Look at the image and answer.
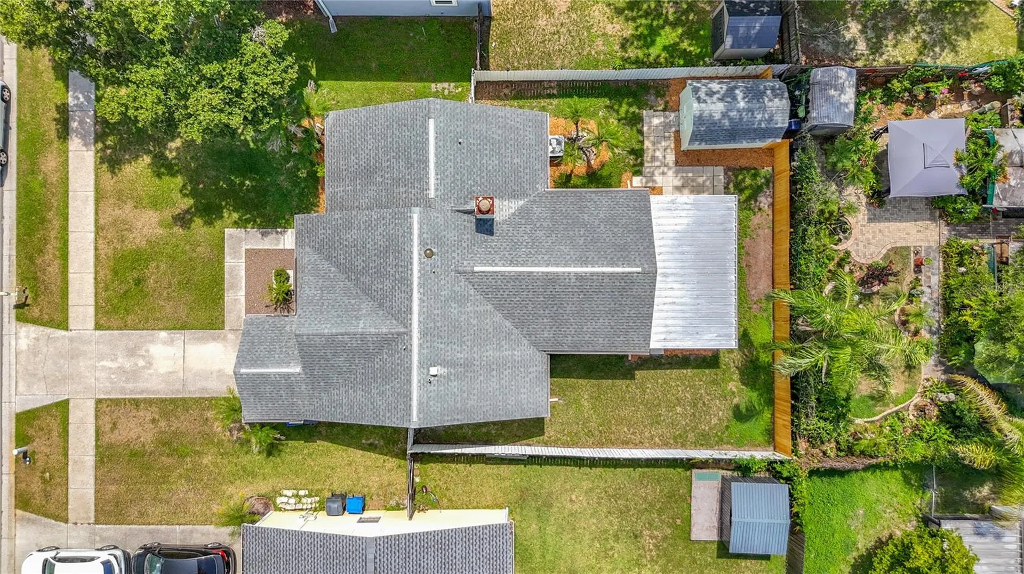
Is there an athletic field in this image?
No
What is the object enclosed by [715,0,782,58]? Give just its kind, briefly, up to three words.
shed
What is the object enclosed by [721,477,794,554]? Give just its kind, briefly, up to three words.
shed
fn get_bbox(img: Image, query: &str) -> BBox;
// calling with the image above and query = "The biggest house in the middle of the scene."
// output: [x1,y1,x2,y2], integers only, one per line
[233,98,659,429]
